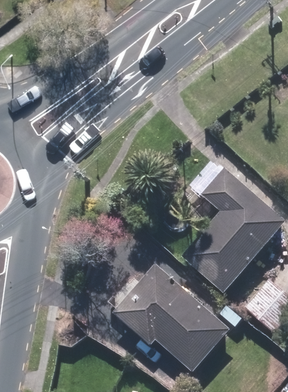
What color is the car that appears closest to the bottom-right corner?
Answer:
blue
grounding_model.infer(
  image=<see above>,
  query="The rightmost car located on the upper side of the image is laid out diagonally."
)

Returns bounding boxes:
[134,44,166,70]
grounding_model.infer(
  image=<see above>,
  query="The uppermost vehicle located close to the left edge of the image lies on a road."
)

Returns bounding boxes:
[8,85,41,112]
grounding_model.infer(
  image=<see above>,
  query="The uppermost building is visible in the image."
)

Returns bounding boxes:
[182,162,284,294]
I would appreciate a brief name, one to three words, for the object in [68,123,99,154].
truck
